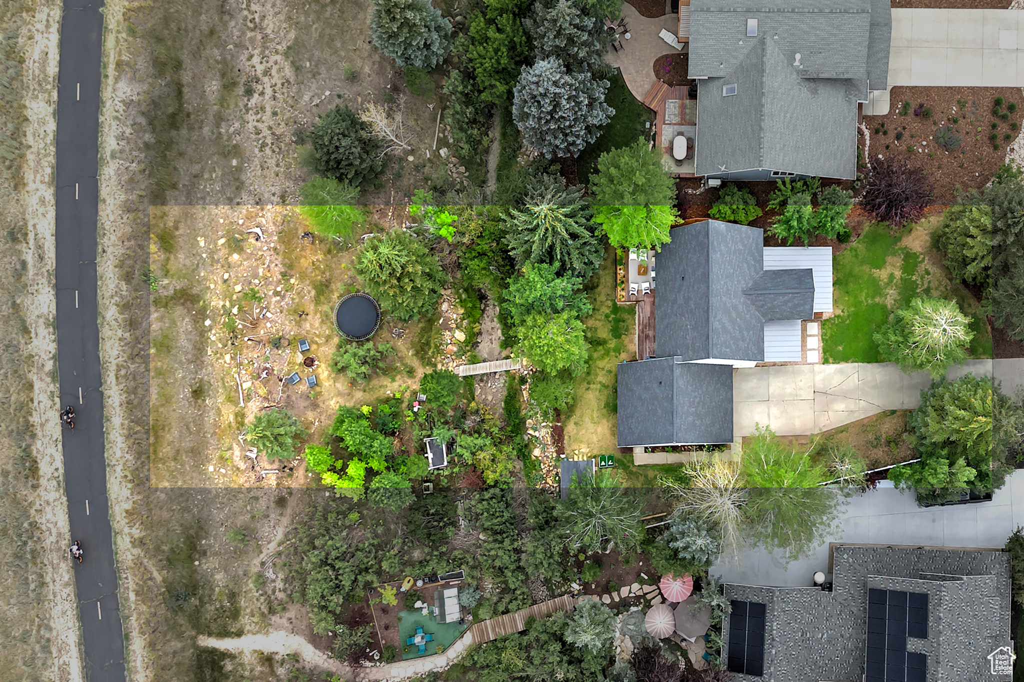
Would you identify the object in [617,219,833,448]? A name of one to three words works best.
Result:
house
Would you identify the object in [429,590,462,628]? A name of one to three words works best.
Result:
shed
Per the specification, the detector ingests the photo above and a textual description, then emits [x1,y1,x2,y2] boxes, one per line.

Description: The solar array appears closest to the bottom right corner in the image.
[867,589,928,682]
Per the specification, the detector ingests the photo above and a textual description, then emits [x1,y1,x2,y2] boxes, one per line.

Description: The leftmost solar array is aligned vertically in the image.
[730,601,765,676]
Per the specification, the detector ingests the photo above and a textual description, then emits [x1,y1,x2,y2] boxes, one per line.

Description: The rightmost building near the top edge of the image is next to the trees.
[687,0,893,183]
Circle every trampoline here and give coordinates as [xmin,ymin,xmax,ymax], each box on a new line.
[333,293,381,341]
